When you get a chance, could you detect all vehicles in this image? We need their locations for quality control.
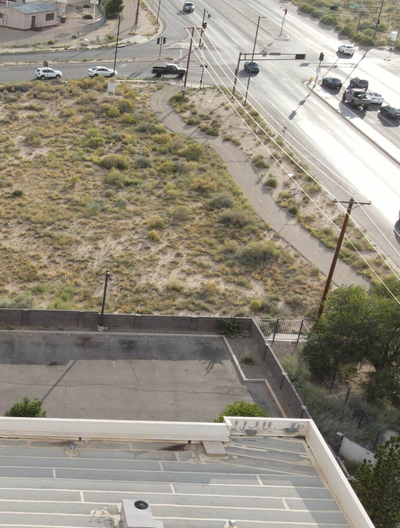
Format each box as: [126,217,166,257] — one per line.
[184,2,194,11]
[344,91,367,108]
[324,76,341,88]
[365,92,386,105]
[338,46,357,54]
[35,68,62,78]
[151,62,187,76]
[382,107,400,119]
[88,67,116,77]
[350,76,368,89]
